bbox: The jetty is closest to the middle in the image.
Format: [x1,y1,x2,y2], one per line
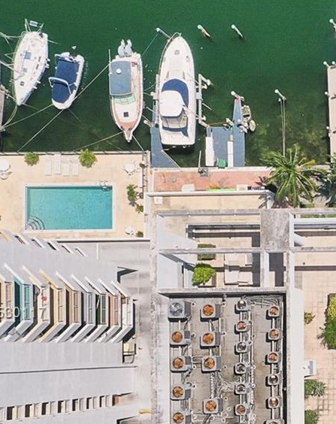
[152,126,176,167]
